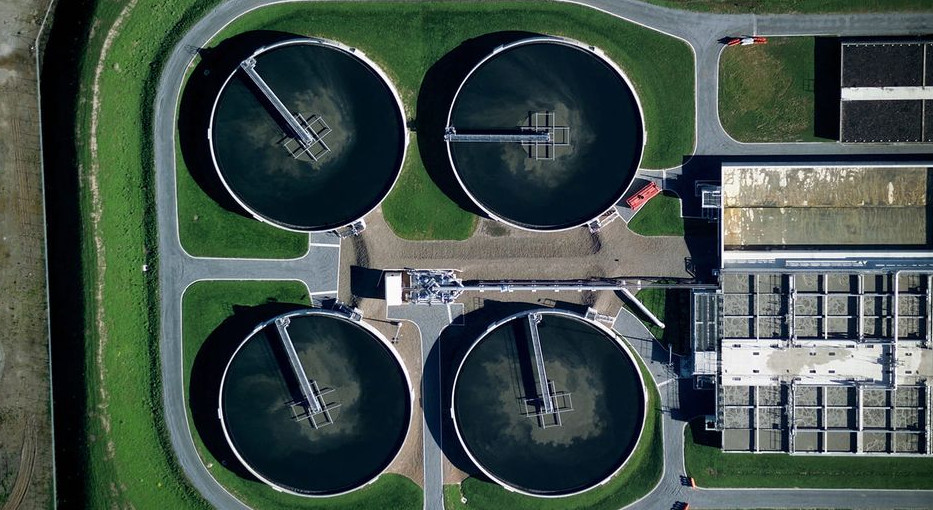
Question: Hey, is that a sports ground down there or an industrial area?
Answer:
industrial area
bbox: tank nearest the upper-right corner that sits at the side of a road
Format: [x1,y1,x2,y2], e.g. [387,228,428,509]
[443,33,648,232]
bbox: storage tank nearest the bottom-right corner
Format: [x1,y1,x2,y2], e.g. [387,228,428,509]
[450,302,650,497]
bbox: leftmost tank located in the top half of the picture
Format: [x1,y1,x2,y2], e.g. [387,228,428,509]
[208,34,411,233]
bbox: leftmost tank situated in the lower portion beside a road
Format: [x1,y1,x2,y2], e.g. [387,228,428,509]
[217,303,416,497]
